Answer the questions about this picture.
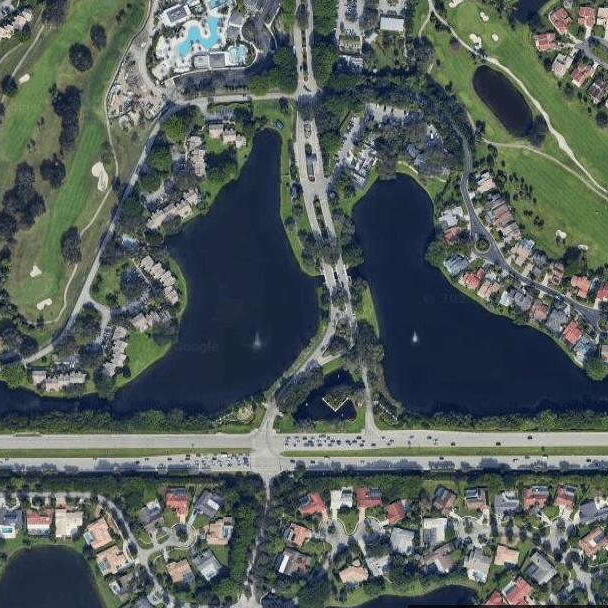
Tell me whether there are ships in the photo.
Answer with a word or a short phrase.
No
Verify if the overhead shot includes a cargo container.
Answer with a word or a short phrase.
No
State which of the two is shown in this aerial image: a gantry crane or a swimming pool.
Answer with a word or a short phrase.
swimming pool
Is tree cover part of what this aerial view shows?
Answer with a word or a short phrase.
Yes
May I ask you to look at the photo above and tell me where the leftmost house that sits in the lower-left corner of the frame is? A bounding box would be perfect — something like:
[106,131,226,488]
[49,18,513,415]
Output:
[0,505,22,528]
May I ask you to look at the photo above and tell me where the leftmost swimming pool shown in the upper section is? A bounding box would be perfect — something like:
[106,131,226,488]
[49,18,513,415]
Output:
[118,230,141,250]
